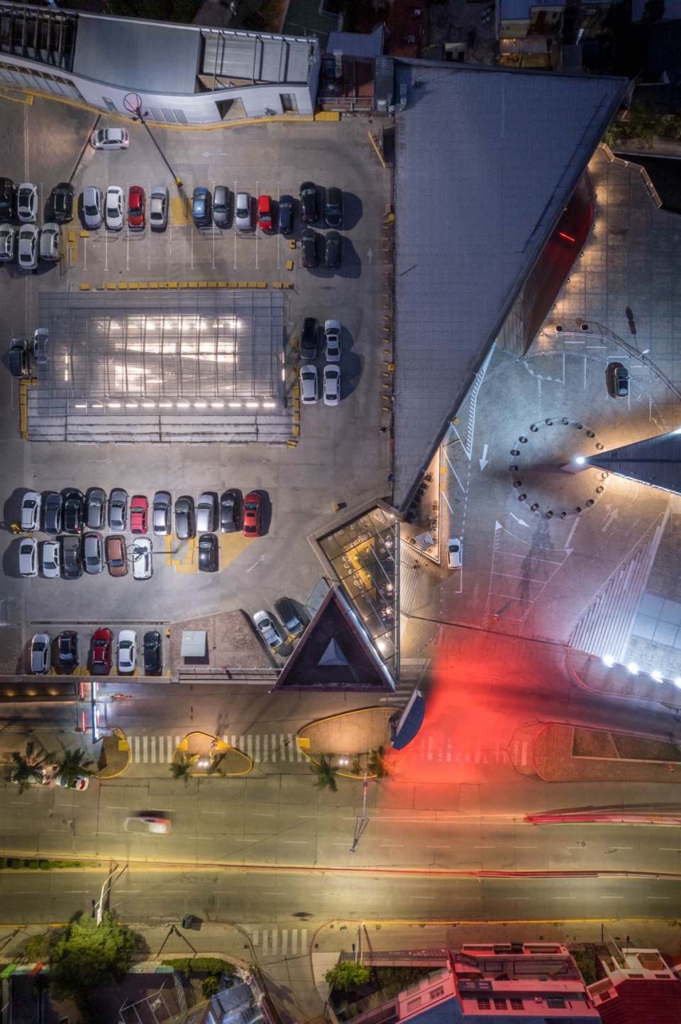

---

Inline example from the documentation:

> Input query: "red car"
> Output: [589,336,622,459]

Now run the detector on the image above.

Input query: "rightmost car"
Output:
[609,363,629,400]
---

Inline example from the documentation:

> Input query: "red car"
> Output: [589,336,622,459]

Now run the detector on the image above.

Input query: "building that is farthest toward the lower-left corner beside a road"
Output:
[198,962,272,1024]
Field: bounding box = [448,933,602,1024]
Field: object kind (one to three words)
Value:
building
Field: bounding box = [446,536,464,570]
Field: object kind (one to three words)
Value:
car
